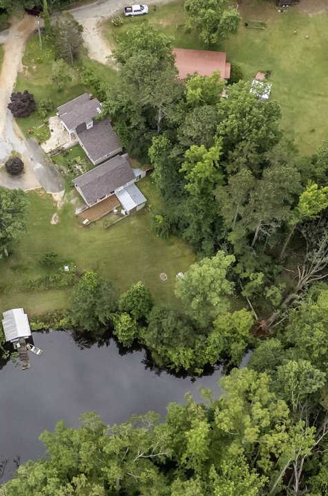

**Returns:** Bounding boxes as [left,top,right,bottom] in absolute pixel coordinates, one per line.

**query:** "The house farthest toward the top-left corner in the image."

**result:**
[53,91,101,143]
